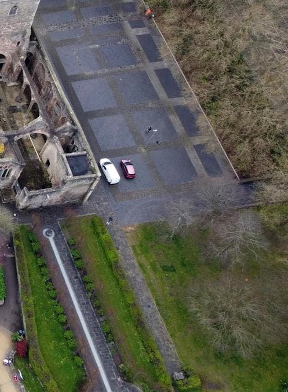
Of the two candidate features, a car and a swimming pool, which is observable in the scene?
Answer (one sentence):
There is a car in the scene.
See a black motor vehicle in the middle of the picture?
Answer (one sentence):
No, I can find no black motor vehicle in the middle of the picture.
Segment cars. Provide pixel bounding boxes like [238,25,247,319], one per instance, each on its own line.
[100,156,122,184]
[121,158,139,181]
